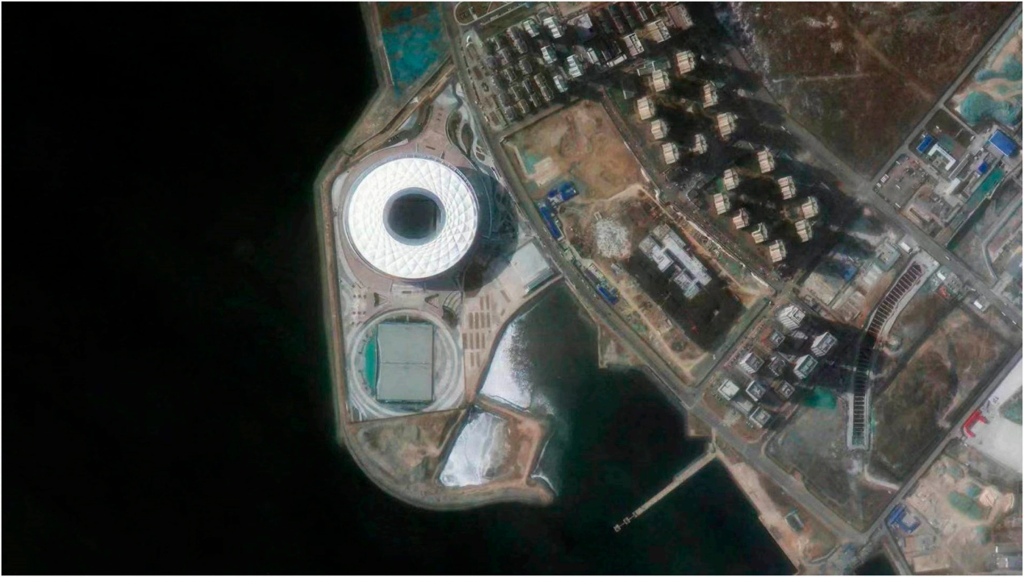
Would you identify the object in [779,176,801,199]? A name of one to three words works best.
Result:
building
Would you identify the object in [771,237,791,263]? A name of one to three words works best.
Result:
building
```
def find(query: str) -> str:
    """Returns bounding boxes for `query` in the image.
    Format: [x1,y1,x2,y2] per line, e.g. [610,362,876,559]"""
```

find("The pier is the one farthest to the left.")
[635,443,719,516]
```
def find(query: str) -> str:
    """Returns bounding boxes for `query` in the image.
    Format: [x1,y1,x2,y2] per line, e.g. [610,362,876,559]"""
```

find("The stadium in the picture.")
[343,153,479,284]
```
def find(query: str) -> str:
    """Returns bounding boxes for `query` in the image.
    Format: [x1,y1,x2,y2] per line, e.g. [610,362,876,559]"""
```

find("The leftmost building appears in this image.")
[377,322,434,403]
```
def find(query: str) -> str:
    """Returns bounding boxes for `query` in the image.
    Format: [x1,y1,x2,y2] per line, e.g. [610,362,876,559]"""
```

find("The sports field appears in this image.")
[387,201,433,238]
